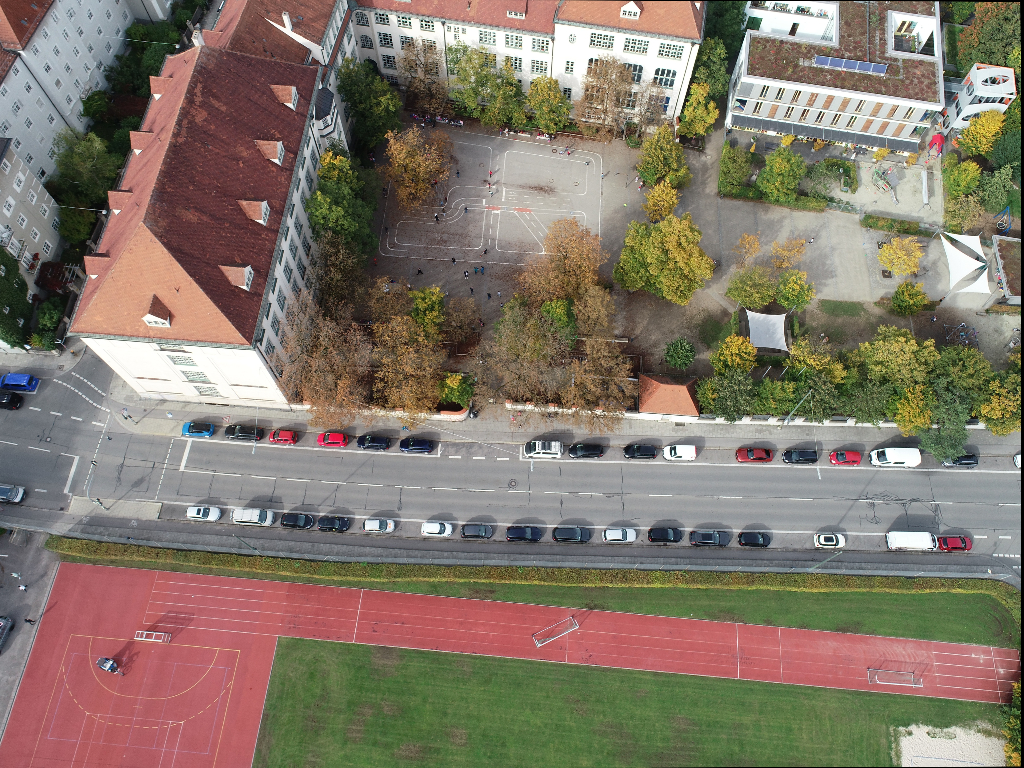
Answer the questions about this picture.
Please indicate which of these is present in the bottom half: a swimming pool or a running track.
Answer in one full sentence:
The feature located in the bottom half is a running track.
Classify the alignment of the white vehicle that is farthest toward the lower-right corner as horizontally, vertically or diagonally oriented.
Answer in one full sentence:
In this picture, the white vehicle that is farthest toward the lower-right corner is oriented horizontally.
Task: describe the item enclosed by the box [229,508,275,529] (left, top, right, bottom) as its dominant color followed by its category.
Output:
white vehicle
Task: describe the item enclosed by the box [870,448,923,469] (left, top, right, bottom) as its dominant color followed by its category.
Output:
white vehicle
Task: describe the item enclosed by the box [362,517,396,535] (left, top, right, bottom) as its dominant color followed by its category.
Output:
white car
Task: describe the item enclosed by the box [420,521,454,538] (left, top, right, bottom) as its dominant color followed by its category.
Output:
white car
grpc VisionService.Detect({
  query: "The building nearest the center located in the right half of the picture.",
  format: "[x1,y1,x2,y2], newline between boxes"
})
[638,370,700,425]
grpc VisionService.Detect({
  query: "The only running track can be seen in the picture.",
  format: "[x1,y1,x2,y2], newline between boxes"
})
[144,570,1018,704]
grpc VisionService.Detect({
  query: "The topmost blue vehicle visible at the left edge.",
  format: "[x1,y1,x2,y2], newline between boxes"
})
[0,373,39,394]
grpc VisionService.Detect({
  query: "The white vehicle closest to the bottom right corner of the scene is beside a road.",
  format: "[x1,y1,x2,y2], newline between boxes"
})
[885,531,936,552]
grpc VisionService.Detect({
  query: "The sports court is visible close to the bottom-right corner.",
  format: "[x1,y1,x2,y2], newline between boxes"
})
[889,721,1011,768]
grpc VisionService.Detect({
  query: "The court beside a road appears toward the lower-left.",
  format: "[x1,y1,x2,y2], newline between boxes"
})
[0,561,277,768]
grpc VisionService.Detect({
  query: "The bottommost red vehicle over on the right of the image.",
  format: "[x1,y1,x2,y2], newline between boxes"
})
[936,535,972,553]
